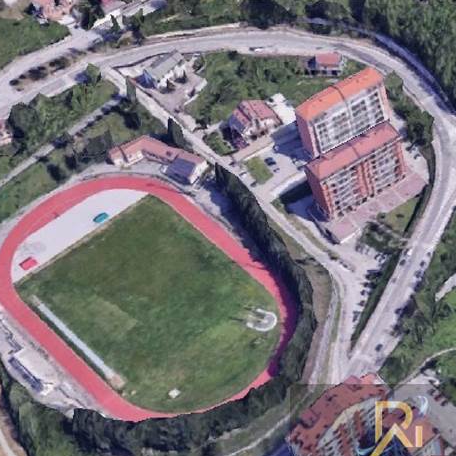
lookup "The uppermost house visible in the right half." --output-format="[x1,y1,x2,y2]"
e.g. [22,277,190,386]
[316,52,346,73]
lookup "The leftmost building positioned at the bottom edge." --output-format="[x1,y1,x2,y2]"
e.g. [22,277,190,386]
[277,366,388,456]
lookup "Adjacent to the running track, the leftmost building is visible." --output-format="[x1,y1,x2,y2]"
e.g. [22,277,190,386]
[106,138,144,170]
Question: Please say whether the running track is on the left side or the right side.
left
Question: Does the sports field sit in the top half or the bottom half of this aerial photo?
bottom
